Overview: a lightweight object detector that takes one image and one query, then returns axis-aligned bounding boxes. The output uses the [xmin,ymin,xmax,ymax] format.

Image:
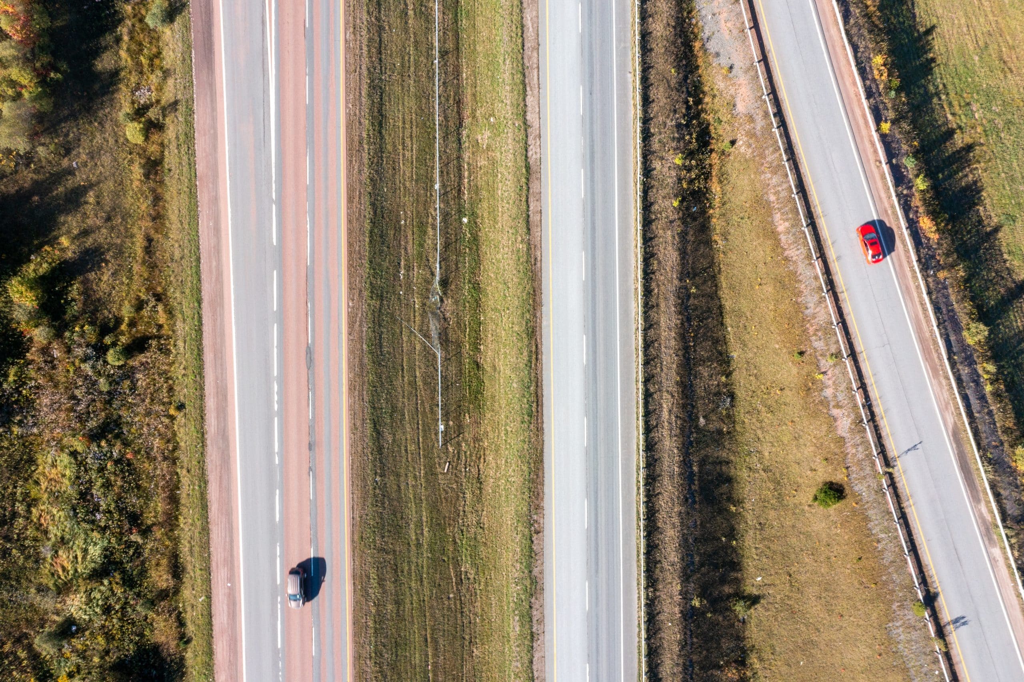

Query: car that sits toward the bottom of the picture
[284,569,306,611]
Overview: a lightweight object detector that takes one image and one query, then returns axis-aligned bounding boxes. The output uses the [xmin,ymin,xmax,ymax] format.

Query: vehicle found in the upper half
[859,221,887,263]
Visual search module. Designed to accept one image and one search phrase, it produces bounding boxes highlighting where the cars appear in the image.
[284,569,306,611]
[859,221,887,263]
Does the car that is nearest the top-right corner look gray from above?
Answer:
No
